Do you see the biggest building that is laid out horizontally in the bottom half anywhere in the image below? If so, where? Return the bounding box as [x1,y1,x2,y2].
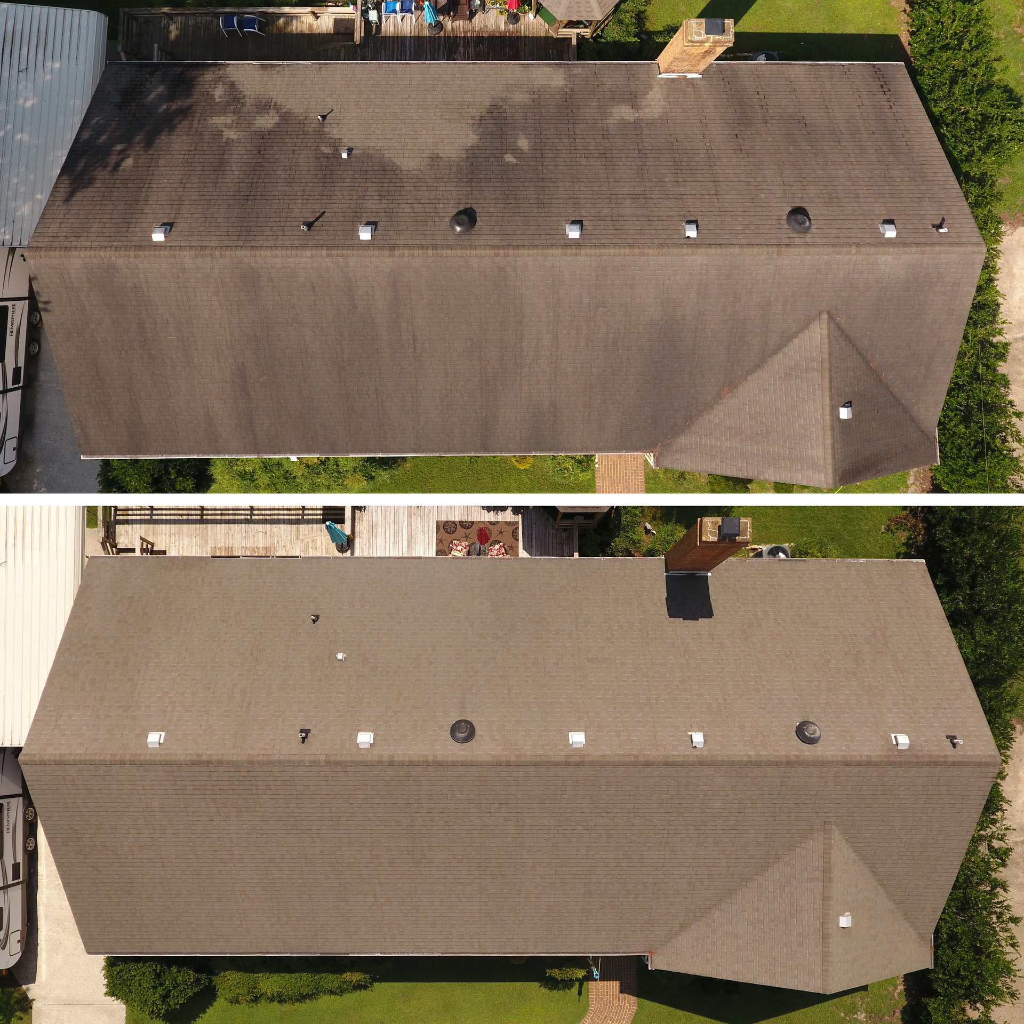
[20,516,1000,995]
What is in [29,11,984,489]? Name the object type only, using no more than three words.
house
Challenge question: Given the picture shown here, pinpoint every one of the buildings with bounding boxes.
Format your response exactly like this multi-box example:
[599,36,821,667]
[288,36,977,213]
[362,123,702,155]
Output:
[20,516,1000,995]
[29,11,984,489]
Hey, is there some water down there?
No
